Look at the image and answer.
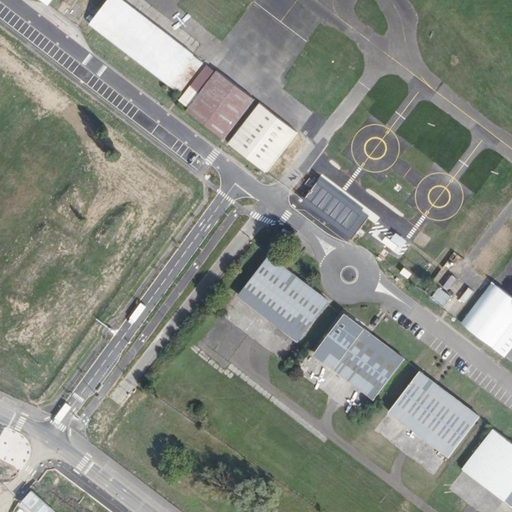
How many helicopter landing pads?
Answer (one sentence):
In total, 2 helicopter landing pads can be seen.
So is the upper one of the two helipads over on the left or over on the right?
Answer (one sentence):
The upper one of the two helipads is on the right side of the image.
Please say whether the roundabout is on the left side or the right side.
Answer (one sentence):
The roundabout is on the right side of the image.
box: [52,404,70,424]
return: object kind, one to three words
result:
vehicle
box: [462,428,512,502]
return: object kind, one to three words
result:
hangar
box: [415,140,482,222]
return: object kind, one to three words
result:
helipad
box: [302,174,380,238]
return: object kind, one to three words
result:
building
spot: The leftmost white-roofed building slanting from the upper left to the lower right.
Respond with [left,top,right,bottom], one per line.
[89,0,204,92]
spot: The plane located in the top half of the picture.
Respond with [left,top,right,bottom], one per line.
[174,12,190,29]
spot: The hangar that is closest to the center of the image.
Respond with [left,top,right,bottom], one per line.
[240,258,324,336]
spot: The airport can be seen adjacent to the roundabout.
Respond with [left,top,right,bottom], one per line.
[126,0,512,240]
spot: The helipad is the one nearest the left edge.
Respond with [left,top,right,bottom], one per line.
[350,92,419,172]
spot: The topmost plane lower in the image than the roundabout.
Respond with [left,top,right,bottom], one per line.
[310,368,325,390]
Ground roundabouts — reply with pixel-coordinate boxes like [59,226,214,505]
[314,234,409,307]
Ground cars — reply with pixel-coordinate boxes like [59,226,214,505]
[84,12,93,23]
[460,364,470,374]
[410,322,420,333]
[19,484,28,495]
[403,318,412,328]
[394,310,402,320]
[372,316,380,326]
[416,328,425,339]
[306,176,315,186]
[441,349,450,360]
[187,152,196,162]
[456,358,465,369]
[398,314,408,324]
